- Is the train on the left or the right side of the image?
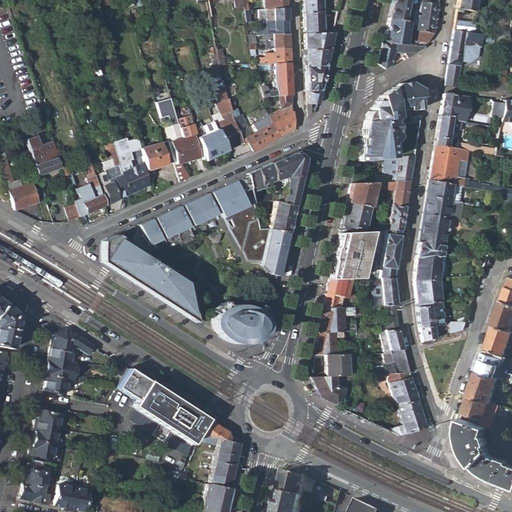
left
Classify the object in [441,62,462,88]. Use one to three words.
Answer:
house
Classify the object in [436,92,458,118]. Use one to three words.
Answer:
house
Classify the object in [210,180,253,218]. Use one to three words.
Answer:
building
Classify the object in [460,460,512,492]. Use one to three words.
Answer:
building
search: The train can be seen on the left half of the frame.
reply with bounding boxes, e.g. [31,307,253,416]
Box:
[0,244,64,288]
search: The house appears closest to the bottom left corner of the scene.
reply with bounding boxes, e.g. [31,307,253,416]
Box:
[17,472,44,505]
